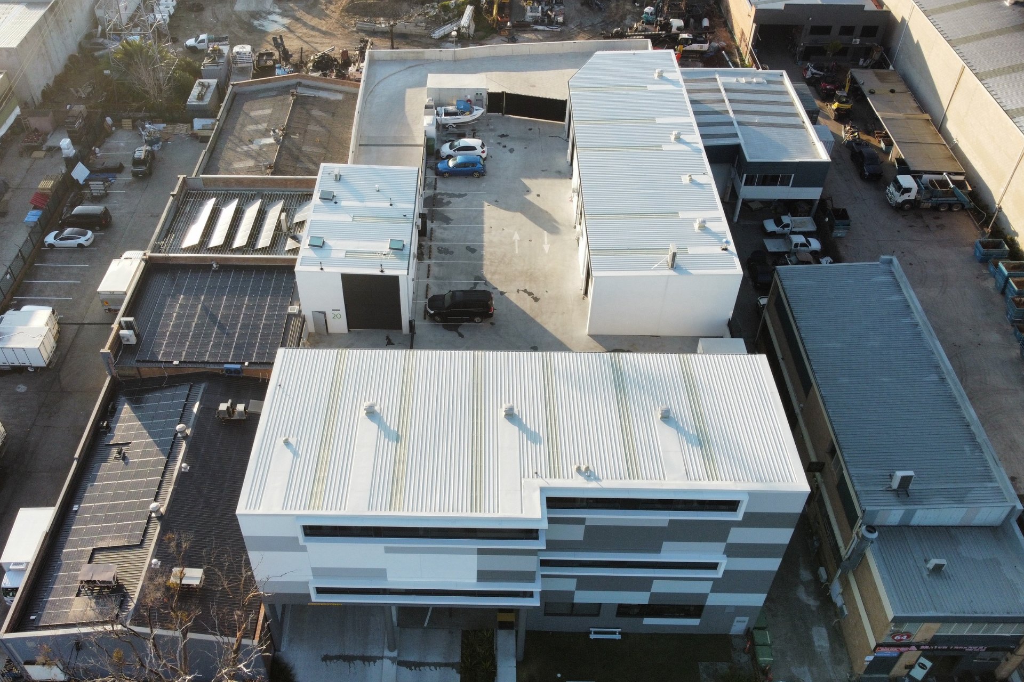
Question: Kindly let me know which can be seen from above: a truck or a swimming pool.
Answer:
truck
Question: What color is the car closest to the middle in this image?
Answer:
black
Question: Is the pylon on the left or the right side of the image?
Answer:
left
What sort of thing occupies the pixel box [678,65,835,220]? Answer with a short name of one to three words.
building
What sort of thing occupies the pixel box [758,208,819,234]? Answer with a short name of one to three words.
truck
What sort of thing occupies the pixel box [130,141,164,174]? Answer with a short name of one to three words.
car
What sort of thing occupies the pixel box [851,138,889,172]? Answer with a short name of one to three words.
truck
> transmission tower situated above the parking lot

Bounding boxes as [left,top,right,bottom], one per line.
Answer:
[92,0,185,88]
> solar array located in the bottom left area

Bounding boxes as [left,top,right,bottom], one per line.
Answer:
[21,383,193,621]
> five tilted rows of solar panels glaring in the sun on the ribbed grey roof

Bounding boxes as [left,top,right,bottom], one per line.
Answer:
[180,199,310,248]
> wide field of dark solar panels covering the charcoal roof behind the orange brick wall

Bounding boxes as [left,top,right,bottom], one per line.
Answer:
[131,265,298,366]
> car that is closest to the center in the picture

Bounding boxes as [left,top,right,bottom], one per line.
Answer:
[427,286,495,321]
